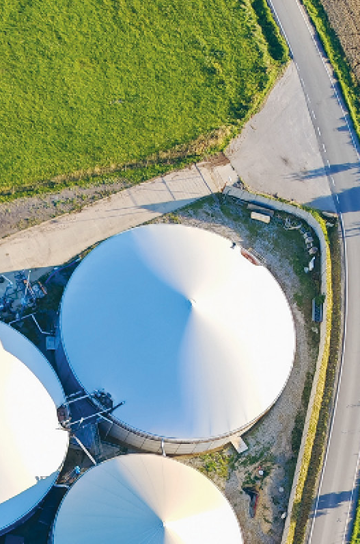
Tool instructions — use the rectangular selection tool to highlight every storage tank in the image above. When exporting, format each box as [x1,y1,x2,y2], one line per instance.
[0,320,72,541]
[43,222,297,456]
[43,452,244,544]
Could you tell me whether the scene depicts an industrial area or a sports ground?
industrial area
